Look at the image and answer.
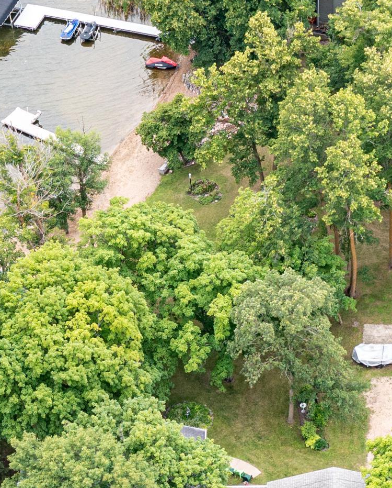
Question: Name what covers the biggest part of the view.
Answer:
trees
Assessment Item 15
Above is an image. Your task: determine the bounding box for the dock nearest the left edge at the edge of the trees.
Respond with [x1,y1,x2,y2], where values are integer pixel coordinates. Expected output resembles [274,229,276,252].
[1,106,68,150]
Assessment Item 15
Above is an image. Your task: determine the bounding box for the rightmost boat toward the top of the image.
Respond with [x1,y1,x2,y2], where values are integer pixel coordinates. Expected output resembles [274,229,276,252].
[147,57,177,70]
